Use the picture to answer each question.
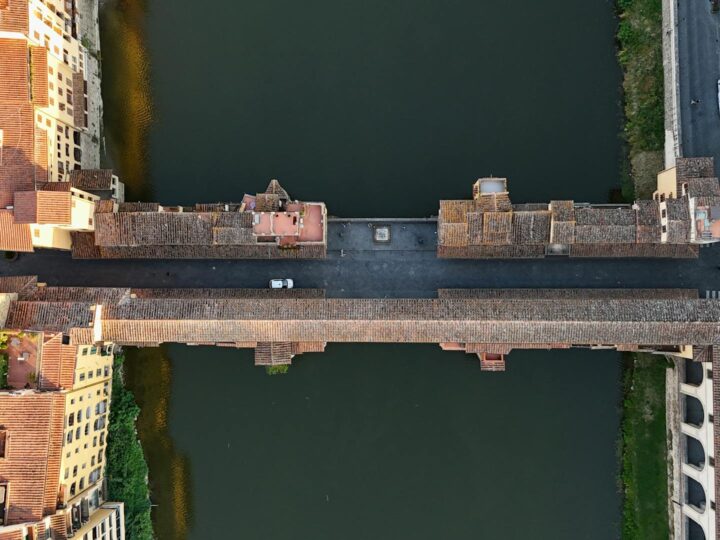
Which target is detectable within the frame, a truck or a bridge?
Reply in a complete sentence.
The image shows a bridge.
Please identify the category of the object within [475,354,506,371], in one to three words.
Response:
house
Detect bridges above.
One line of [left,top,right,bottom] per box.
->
[80,218,674,343]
